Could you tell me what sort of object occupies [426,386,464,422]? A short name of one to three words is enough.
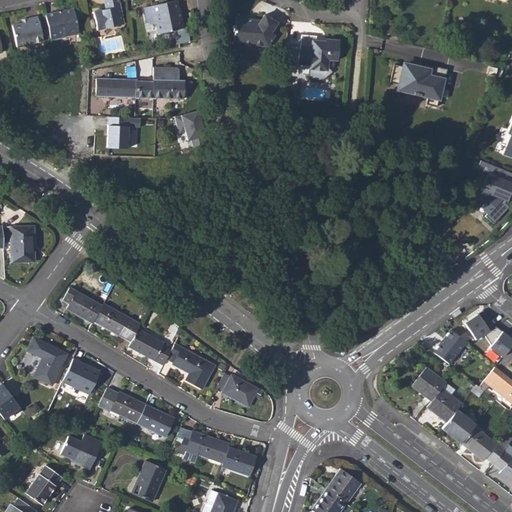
house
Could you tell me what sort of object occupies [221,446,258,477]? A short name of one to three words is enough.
house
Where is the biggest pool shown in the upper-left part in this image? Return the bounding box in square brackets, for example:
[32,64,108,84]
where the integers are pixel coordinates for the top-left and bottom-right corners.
[100,35,125,55]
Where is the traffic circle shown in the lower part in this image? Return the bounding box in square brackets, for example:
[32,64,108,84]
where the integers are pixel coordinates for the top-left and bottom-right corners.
[289,356,362,429]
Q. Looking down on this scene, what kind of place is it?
residential area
